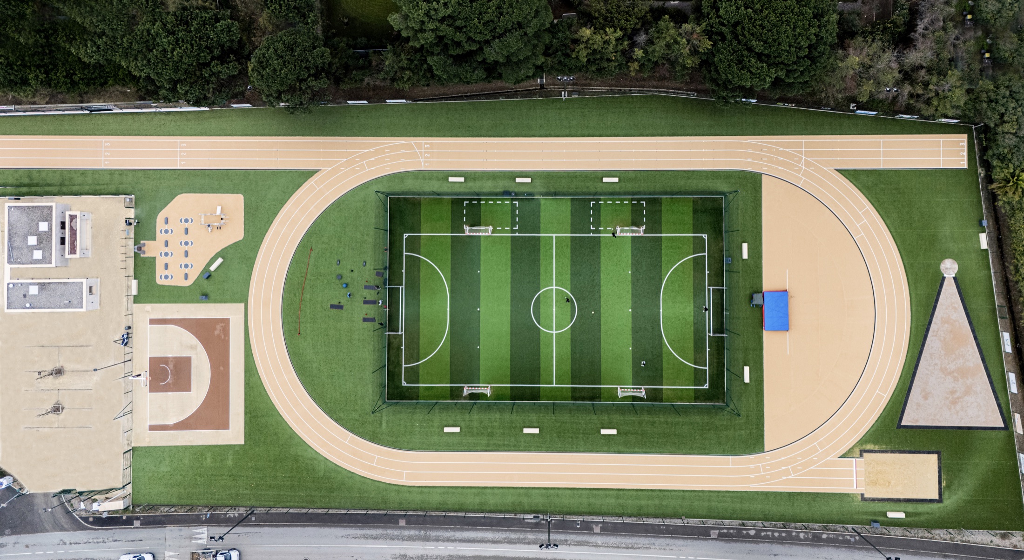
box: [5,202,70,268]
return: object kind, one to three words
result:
building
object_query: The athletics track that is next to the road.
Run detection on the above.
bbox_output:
[247,169,911,490]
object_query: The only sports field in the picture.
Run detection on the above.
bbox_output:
[386,197,725,404]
